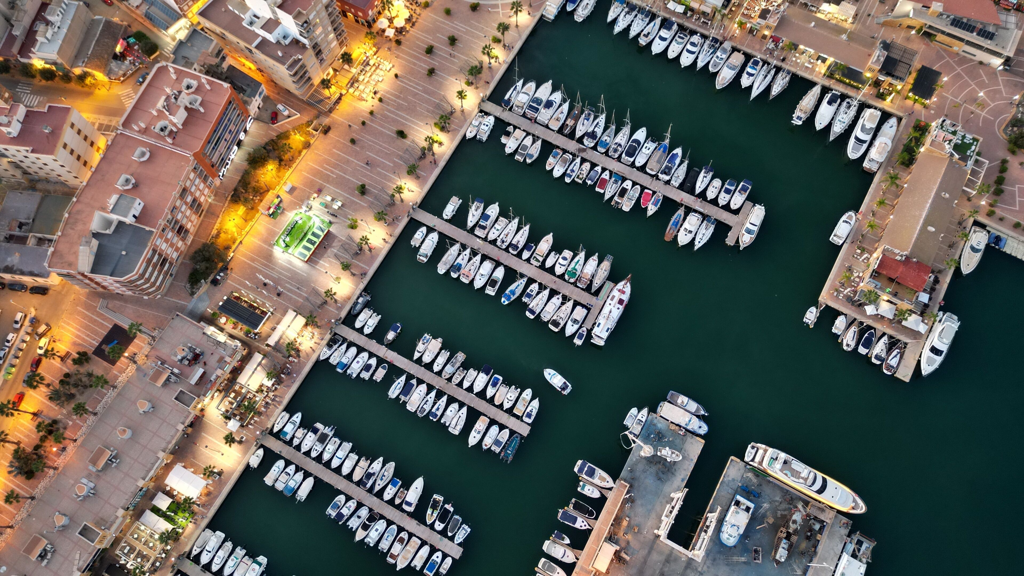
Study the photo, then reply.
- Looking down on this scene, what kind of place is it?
port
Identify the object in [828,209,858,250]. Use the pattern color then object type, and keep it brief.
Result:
white boat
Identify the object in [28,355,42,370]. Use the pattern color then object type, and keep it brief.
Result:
red car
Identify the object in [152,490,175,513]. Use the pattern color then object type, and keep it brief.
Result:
white umbrella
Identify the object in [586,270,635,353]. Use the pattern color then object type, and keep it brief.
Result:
white vessel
